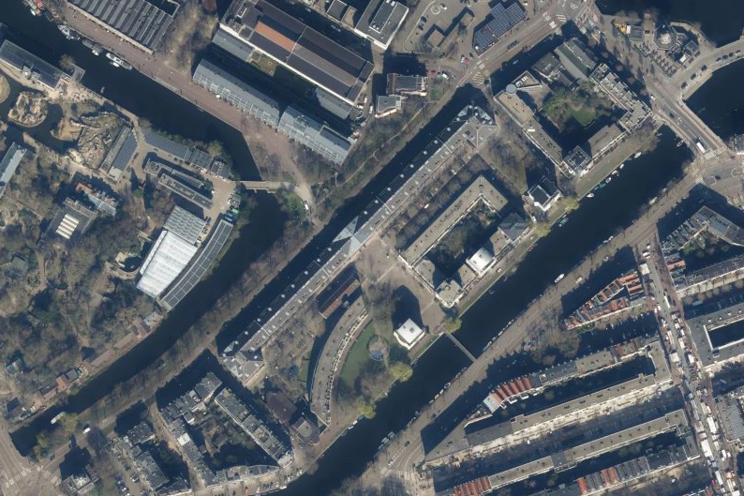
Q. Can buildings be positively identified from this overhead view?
Yes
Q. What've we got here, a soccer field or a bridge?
bridge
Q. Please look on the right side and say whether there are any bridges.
Yes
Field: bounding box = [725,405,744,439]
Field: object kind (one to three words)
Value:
solar panel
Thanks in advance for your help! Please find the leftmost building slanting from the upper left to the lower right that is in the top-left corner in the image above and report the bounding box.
[0,40,62,90]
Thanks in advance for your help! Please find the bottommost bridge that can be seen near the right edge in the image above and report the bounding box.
[662,100,735,158]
